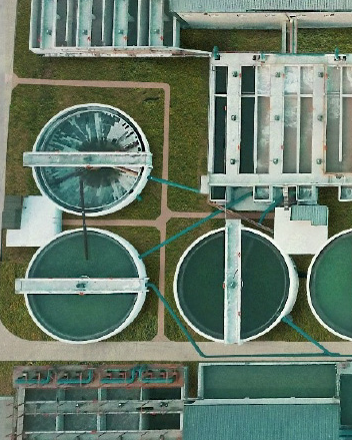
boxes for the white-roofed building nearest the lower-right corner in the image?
[275,205,331,254]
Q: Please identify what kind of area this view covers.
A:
industrial area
